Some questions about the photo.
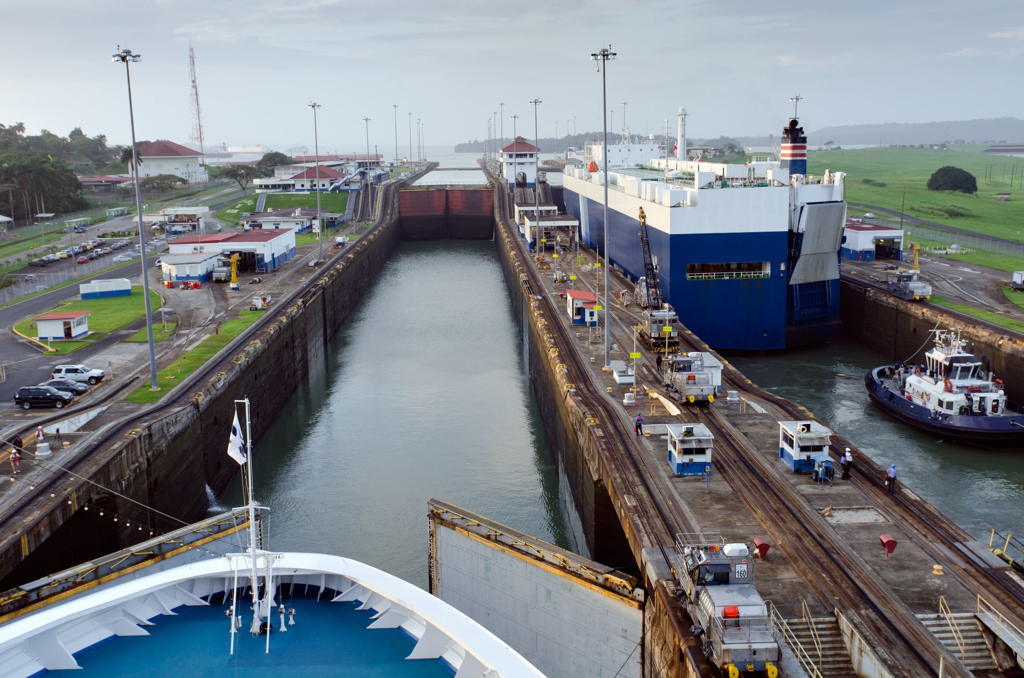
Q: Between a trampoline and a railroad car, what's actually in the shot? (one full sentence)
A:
The one in the frame is a railroad car.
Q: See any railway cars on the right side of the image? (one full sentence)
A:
Yes, a railway car appears on the right side of the image.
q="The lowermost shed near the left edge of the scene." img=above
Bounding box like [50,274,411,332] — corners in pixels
[20,298,103,342]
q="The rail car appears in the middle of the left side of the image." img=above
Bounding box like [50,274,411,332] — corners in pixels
[211,255,231,279]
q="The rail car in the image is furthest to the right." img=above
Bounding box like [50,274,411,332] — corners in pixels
[886,267,926,300]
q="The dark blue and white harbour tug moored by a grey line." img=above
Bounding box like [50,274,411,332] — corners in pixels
[854,314,1024,459]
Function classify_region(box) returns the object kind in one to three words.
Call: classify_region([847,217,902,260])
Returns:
building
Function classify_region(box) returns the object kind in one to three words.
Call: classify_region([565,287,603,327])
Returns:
shed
